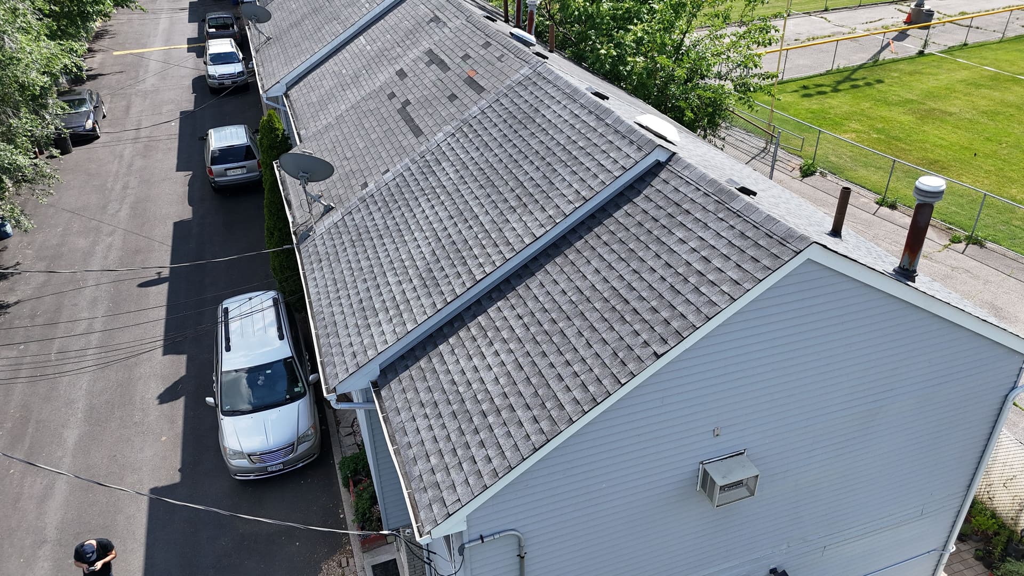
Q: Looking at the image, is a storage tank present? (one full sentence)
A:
No, I can't see a single storage tank in this photo.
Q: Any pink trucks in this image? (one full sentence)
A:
No, the frame has no pink truck in it.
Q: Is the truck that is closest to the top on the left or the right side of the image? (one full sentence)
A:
You can find the truck that is closest to the top on the left side of the picture.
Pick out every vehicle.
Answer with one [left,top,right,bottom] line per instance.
[199,124,253,190]
[201,37,250,91]
[44,89,109,140]
[202,292,326,484]
[203,10,242,43]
